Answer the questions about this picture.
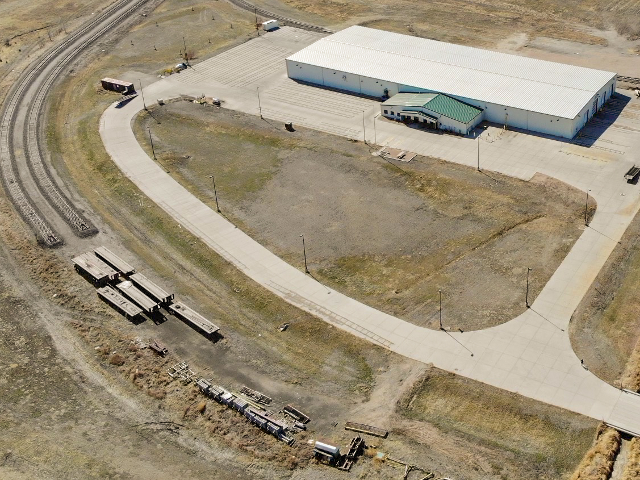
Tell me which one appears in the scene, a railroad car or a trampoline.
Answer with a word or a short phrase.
railroad car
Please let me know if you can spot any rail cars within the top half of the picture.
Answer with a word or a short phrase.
Yes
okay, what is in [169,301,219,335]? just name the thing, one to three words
rail car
